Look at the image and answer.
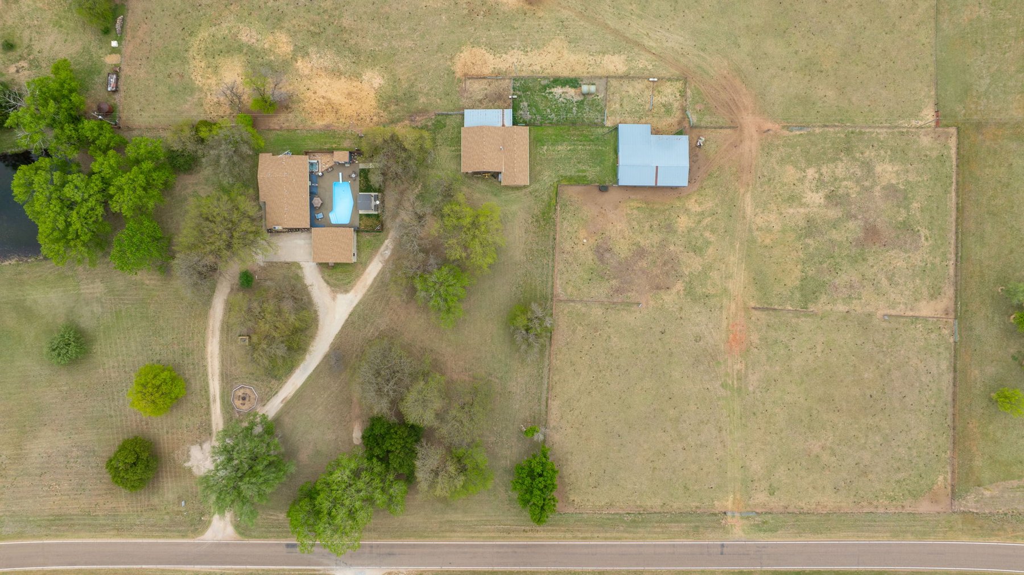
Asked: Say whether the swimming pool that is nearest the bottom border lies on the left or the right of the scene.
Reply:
left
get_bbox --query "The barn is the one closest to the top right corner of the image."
[616,123,690,187]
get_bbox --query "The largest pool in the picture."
[328,181,354,225]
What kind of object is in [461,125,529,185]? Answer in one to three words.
shed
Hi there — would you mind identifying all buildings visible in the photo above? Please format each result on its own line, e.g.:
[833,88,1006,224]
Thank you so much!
[257,153,312,228]
[333,151,351,162]
[358,195,373,210]
[461,125,529,185]
[312,228,356,263]
[616,123,690,187]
